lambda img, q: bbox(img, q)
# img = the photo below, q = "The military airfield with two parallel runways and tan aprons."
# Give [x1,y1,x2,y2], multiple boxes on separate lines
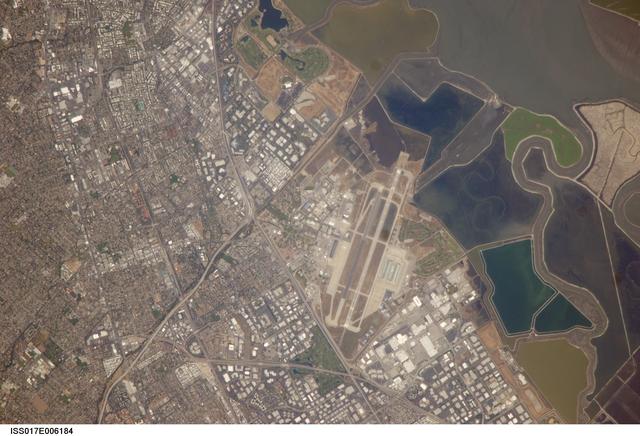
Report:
[318,151,416,334]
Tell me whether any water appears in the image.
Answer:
Yes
